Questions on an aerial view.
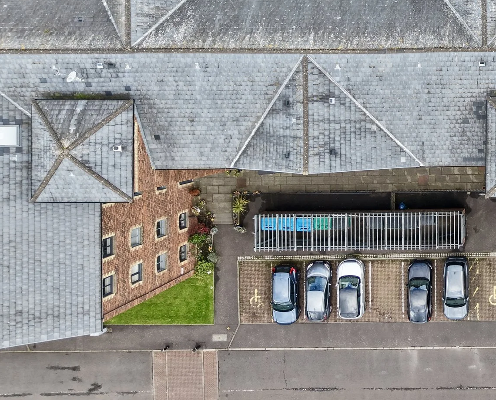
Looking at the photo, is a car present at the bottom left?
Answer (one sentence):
No, I see no car at the bottom left.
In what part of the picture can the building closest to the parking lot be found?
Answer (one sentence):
The building closest to the parking lot is located in the right region of the scene.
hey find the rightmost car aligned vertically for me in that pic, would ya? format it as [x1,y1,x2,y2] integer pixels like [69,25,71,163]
[441,254,469,315]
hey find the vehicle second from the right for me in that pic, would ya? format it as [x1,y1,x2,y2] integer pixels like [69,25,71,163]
[406,256,435,320]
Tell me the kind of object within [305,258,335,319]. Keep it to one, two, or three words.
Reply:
car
